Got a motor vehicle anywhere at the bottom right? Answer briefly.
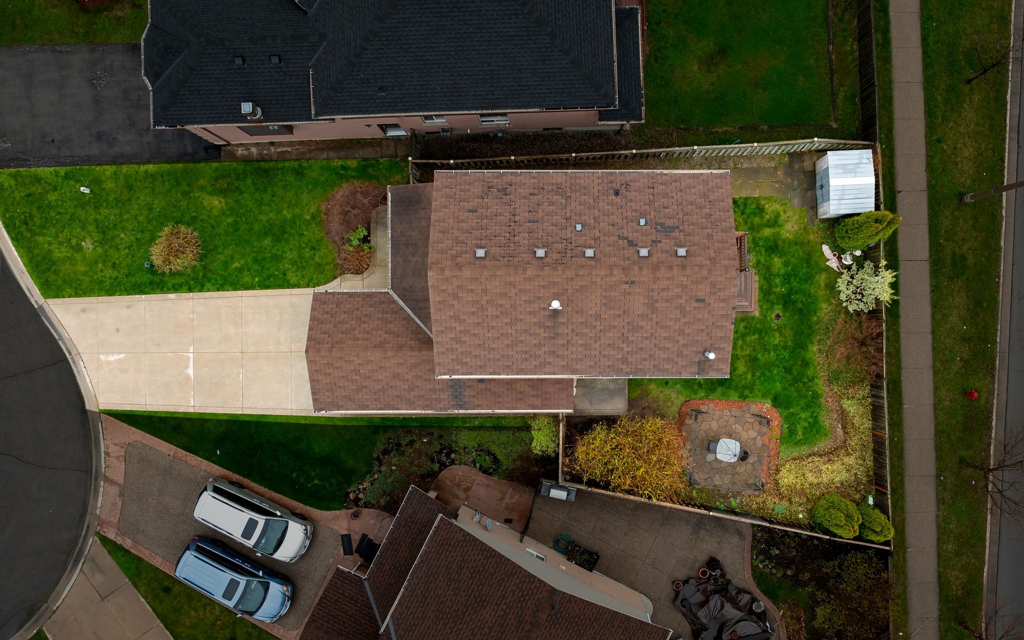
No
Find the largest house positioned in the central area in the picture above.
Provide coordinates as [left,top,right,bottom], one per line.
[305,168,739,414]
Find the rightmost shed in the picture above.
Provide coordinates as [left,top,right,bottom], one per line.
[817,151,876,218]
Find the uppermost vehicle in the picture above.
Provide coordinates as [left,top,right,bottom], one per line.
[192,478,313,558]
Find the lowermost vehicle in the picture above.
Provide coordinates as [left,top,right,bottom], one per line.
[175,535,295,618]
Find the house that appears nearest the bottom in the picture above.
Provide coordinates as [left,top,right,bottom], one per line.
[298,484,674,640]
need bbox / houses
[298,484,674,640]
[305,168,739,414]
[139,0,647,154]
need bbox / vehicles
[192,478,313,558]
[175,535,295,618]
